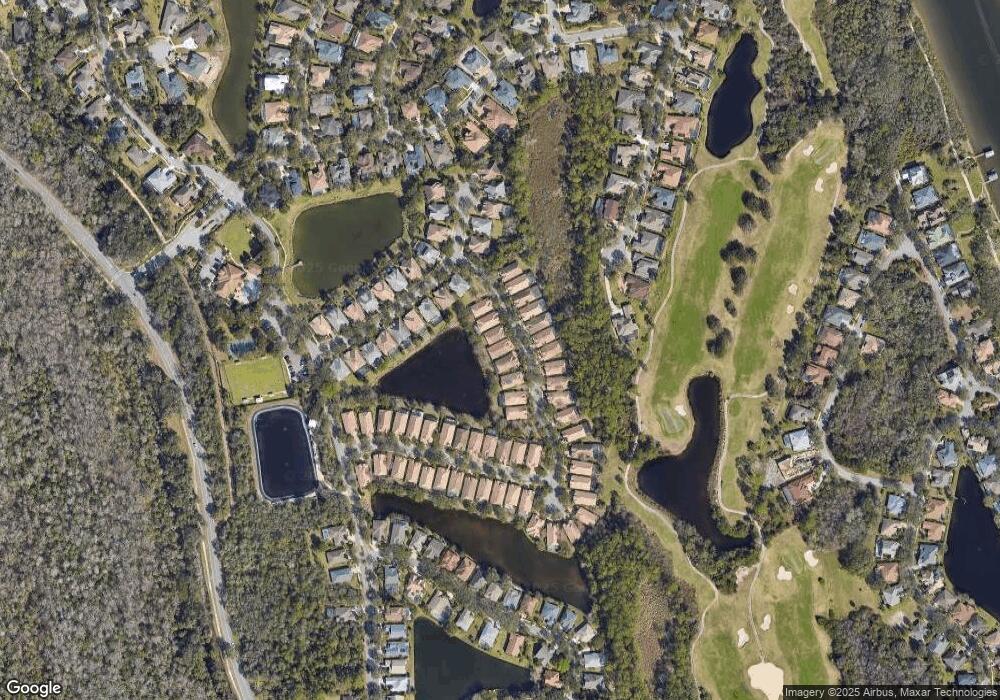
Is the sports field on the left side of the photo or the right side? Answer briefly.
left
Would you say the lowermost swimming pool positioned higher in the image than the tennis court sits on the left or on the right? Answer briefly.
left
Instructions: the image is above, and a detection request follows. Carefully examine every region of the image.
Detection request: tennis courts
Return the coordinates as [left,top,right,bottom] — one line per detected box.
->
[229,340,257,357]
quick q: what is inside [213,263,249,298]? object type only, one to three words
building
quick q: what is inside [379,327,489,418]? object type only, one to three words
pond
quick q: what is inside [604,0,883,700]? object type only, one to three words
golf course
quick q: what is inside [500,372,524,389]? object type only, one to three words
house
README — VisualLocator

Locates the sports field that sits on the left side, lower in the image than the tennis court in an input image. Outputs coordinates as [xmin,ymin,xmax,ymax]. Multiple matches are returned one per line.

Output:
[226,356,288,404]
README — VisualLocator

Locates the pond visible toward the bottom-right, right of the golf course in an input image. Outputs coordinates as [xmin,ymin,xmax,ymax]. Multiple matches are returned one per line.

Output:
[944,465,1000,625]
